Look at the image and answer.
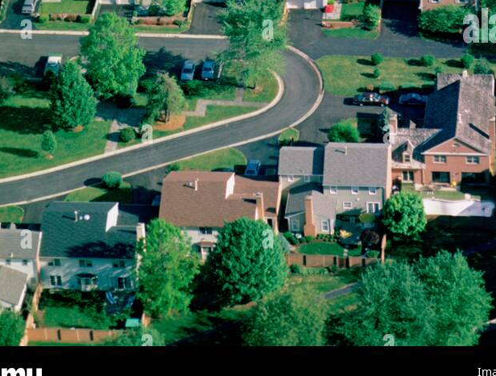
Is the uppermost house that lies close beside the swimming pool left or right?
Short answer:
right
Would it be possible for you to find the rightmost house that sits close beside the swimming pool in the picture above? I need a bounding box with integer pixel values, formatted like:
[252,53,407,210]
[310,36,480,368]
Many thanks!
[388,71,496,184]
